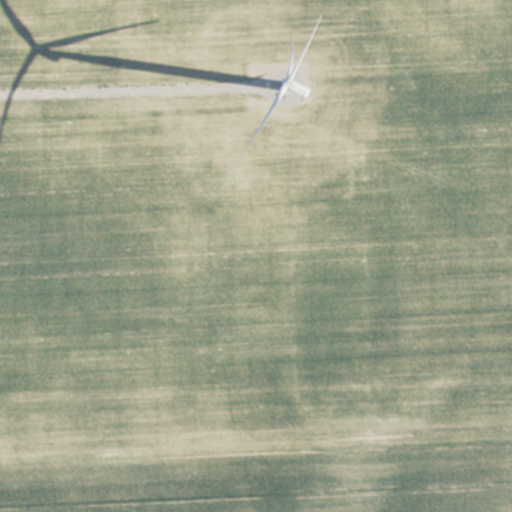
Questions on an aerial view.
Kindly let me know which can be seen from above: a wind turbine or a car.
wind turbine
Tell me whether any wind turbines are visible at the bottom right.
No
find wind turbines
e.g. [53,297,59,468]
[230,17,320,170]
